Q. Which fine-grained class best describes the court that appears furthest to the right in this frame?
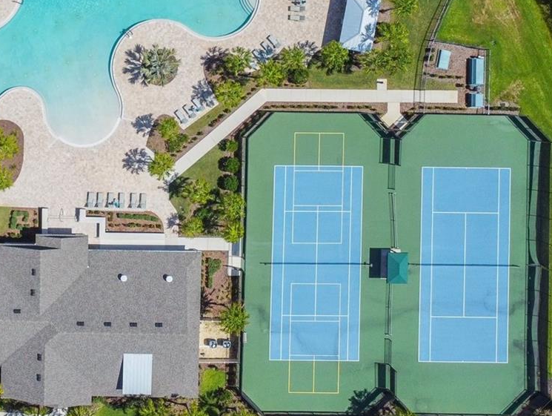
tennis court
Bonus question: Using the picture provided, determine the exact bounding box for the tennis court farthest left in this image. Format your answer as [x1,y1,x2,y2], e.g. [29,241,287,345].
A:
[238,112,392,413]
